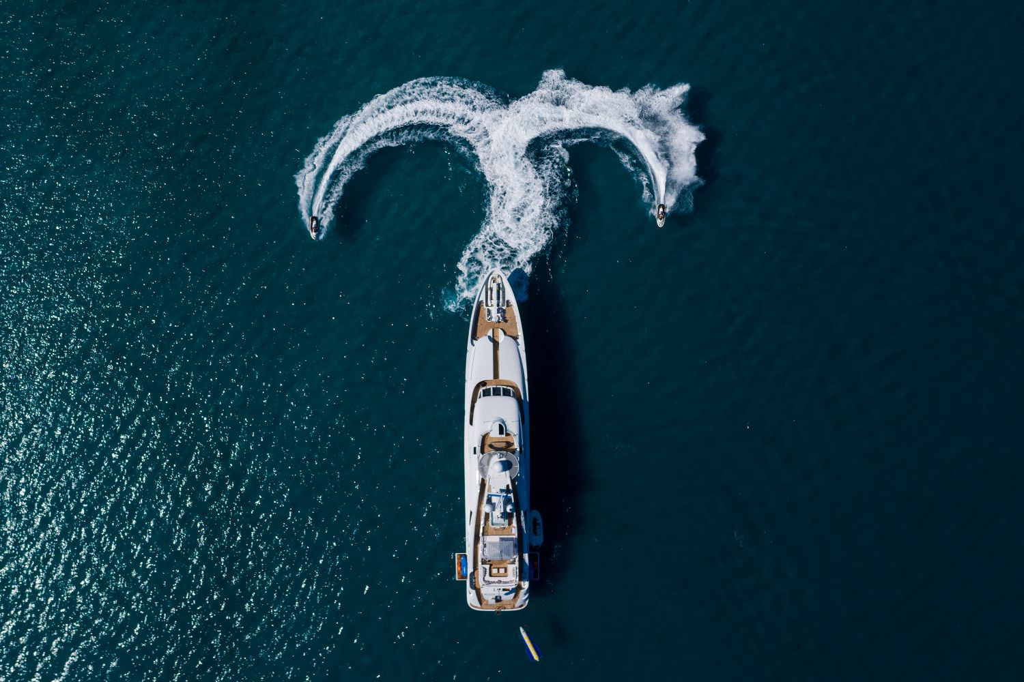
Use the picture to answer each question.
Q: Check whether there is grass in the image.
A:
No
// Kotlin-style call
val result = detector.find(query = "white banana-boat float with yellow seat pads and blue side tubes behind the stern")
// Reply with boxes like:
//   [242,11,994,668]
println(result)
[521,628,543,663]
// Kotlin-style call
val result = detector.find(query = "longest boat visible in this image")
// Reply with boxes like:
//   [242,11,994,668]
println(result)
[455,269,539,615]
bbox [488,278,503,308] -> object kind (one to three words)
boat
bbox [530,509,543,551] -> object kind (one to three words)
boat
